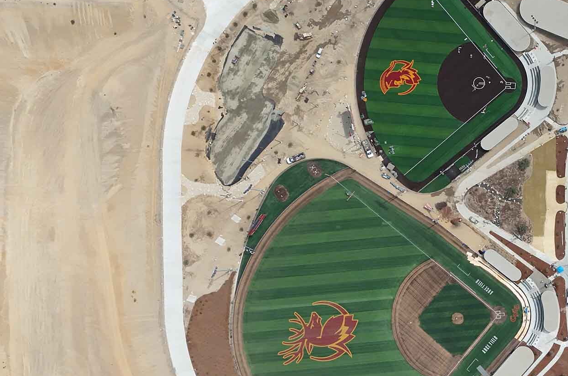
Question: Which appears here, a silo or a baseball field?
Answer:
baseball field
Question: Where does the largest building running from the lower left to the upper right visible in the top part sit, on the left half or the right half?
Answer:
right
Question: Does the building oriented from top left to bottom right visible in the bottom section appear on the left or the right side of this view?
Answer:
right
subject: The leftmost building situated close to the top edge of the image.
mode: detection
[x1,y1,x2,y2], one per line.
[483,1,530,51]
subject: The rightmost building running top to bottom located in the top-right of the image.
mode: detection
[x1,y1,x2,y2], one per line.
[538,66,557,107]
